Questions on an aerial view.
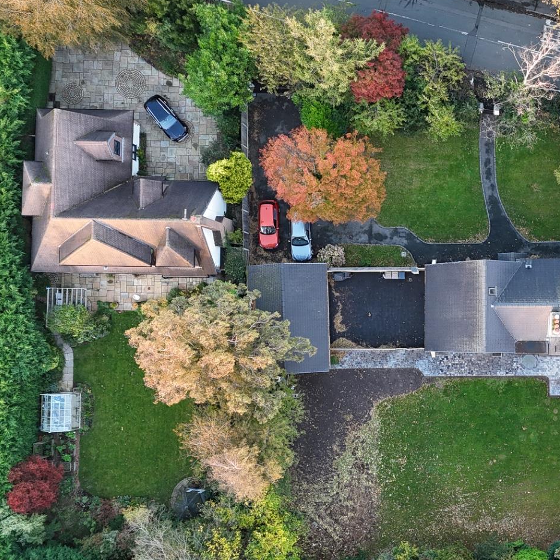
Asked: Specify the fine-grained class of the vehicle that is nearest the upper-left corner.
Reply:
automobile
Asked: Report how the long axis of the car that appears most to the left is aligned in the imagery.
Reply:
on a diagonal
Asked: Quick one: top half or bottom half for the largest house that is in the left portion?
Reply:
top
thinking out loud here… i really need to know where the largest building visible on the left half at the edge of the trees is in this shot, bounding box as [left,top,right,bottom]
[22,108,236,274]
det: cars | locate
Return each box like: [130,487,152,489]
[141,91,191,145]
[288,210,314,261]
[254,200,281,247]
